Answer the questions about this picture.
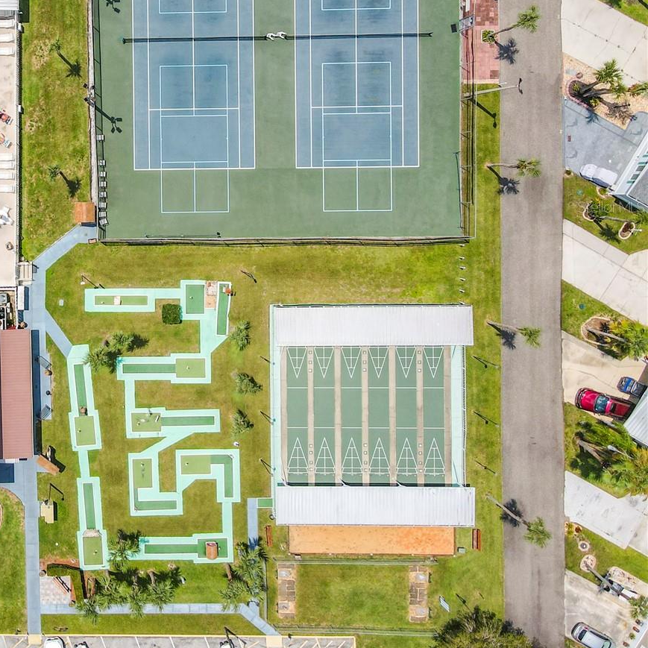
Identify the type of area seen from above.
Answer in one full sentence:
The area seen from above is a sports ground.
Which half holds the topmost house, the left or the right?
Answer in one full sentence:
The topmost house is on the right side of the image.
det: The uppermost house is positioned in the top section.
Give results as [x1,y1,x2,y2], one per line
[612,125,648,211]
